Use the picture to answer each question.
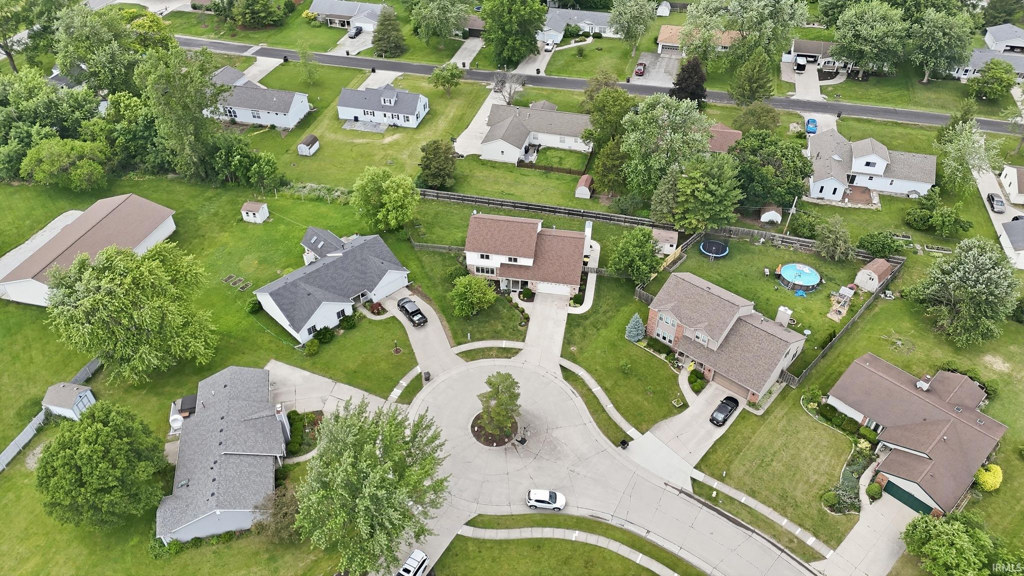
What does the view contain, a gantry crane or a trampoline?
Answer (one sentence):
There is a trampoline in the scene.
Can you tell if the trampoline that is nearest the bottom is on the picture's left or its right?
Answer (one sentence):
It is on the right.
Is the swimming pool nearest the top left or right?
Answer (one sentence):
The swimming pool nearest the top sits on the right side.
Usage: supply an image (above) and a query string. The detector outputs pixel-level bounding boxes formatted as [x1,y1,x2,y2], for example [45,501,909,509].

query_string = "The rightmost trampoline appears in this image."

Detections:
[700,234,730,259]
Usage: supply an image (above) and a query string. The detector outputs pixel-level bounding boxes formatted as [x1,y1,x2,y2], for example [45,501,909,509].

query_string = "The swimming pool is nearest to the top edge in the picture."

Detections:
[776,261,822,295]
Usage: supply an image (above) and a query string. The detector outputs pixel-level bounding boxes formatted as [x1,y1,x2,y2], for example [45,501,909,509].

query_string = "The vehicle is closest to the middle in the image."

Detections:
[396,297,427,327]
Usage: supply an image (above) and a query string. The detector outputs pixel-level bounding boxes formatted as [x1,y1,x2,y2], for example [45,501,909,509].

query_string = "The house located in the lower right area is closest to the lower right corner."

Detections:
[827,350,1007,519]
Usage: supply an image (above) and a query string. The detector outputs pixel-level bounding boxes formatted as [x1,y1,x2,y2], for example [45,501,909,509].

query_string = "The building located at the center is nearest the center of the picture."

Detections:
[464,208,595,299]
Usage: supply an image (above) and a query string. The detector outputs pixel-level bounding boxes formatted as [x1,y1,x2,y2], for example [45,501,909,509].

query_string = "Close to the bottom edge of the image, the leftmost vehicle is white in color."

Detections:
[395,547,430,576]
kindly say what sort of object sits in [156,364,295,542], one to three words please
house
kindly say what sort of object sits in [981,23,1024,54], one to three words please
building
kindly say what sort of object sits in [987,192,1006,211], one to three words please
car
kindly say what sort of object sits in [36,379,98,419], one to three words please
shed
